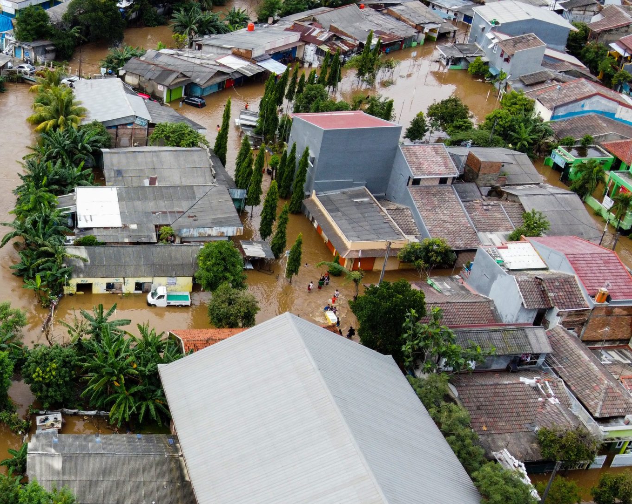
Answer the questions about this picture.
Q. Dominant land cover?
buildings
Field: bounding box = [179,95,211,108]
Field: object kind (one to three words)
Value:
vehicle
